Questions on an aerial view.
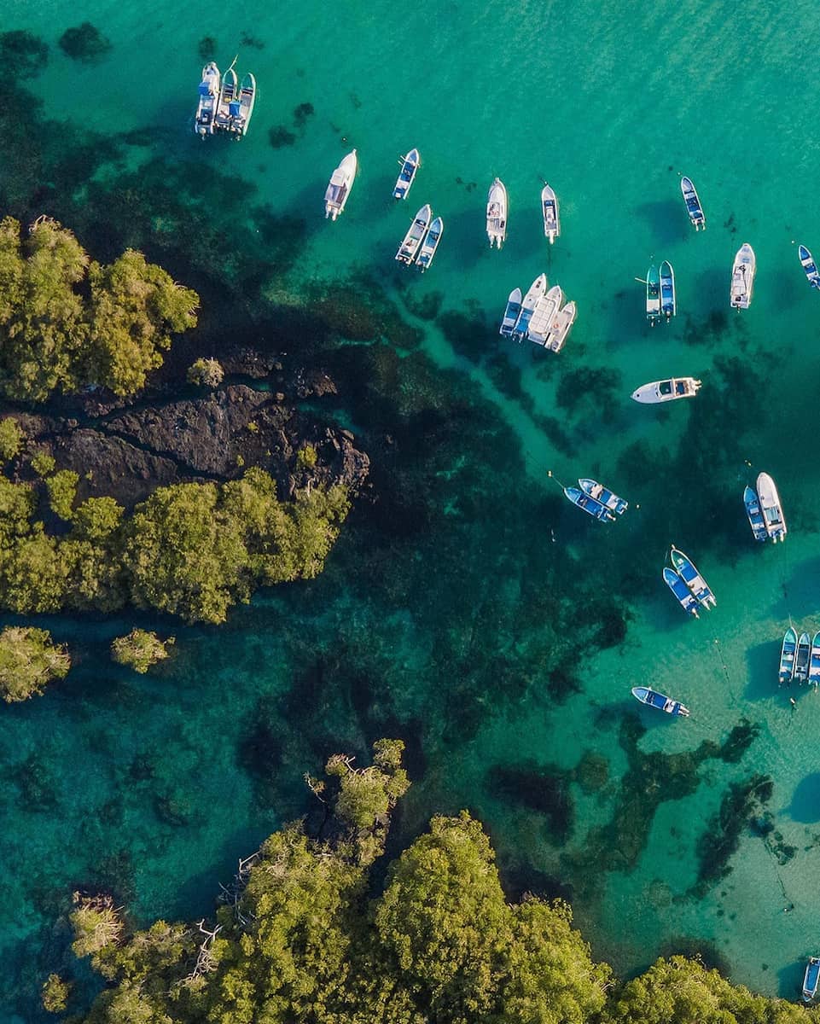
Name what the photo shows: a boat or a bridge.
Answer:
boat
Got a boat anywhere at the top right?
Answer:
Yes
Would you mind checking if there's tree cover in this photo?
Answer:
Yes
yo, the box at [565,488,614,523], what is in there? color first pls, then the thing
blue boat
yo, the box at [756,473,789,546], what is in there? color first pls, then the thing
white boat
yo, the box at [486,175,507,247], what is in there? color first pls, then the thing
white boat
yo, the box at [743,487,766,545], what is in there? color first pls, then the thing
blue boat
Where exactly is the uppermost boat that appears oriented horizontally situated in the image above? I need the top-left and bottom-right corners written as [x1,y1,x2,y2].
[630,376,705,403]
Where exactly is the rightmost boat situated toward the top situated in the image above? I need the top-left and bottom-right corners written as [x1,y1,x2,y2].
[798,246,820,295]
